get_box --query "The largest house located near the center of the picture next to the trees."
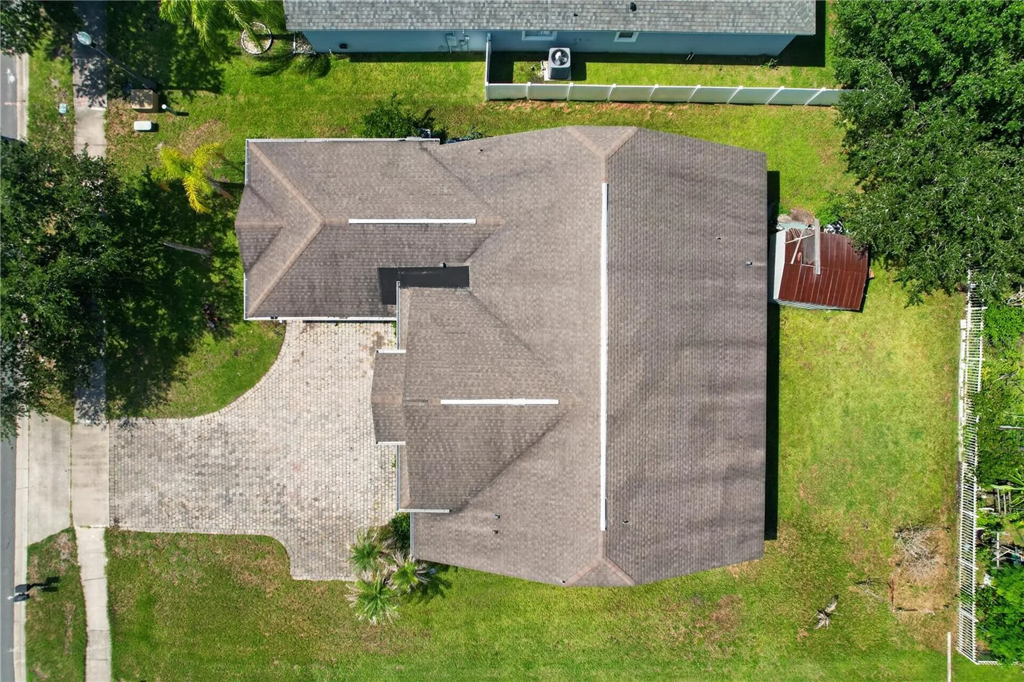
[231,123,767,590]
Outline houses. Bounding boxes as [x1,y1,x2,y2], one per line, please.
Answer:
[283,0,817,56]
[231,123,767,590]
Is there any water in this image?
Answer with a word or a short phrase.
No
